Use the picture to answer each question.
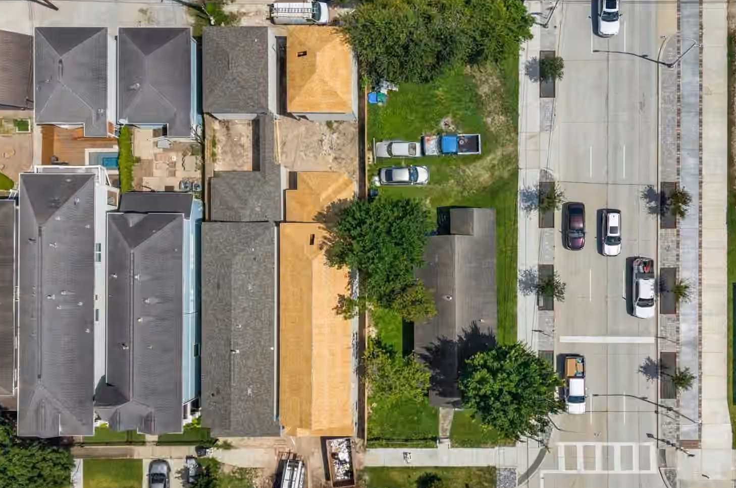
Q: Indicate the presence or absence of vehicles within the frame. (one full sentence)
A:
Yes, this view includes a vehicle.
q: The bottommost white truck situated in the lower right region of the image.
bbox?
[563,354,589,414]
